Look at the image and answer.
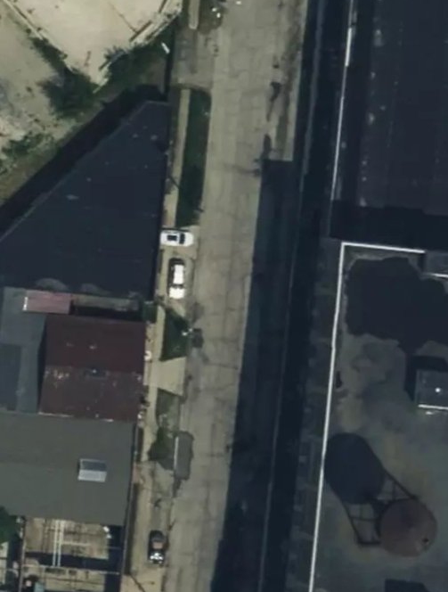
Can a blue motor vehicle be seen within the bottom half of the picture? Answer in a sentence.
No, I can find no blue motor vehicle within the bottom half of the picture.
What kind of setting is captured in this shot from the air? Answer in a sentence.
The picture captures an industrial area.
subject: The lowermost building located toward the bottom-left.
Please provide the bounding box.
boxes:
[0,410,137,527]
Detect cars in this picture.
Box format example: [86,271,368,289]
[149,530,167,566]
[160,231,196,248]
[167,260,186,299]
